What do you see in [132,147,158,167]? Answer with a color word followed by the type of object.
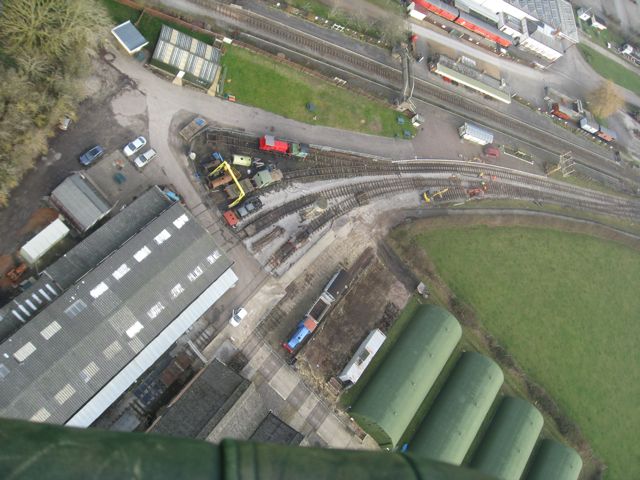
white car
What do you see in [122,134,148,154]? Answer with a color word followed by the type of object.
white car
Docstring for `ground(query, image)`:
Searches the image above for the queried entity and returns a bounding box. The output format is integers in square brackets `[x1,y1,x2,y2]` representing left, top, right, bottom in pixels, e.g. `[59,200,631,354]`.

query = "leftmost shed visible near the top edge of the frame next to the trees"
[110,22,149,59]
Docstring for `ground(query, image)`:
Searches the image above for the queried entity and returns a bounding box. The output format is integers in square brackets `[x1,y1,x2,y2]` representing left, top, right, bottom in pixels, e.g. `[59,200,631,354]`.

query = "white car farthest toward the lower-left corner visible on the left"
[228,306,249,328]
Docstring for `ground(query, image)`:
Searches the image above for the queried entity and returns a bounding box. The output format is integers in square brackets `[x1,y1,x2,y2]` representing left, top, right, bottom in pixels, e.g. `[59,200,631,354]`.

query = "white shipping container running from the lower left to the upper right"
[21,219,71,263]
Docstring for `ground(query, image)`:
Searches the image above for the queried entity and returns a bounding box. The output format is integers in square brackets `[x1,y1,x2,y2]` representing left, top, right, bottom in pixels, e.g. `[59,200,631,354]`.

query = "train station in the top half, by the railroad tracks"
[216,0,622,178]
